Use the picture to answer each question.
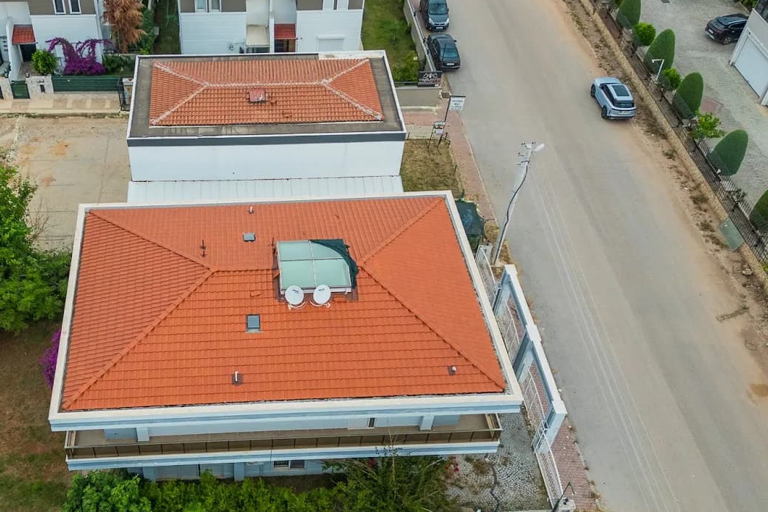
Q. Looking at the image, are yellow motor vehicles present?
No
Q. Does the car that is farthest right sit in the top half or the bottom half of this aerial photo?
top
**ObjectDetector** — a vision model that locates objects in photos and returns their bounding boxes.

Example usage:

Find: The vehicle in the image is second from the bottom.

[437,32,468,66]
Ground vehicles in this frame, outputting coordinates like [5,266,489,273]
[424,0,457,30]
[437,32,468,66]
[700,7,753,39]
[583,73,637,119]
